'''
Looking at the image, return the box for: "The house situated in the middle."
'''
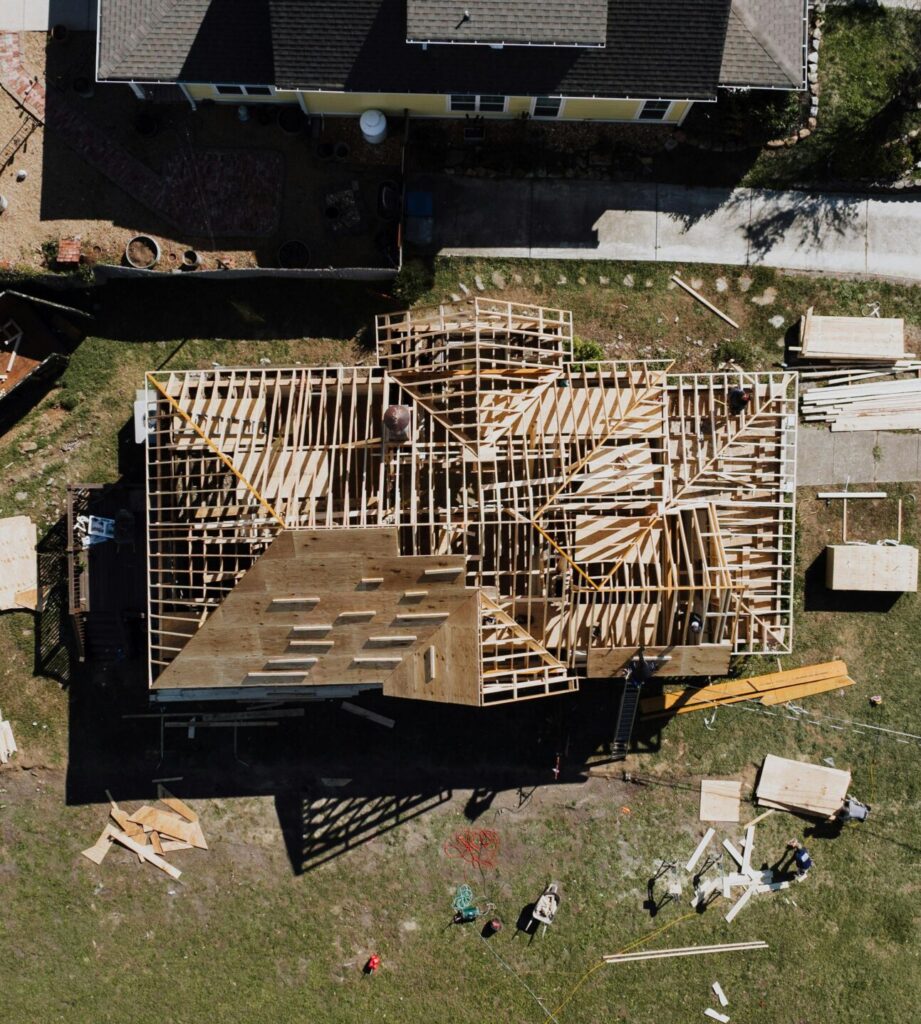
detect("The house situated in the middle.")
[148,297,798,706]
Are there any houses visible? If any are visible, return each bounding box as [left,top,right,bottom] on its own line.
[93,0,816,129]
[148,297,798,706]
